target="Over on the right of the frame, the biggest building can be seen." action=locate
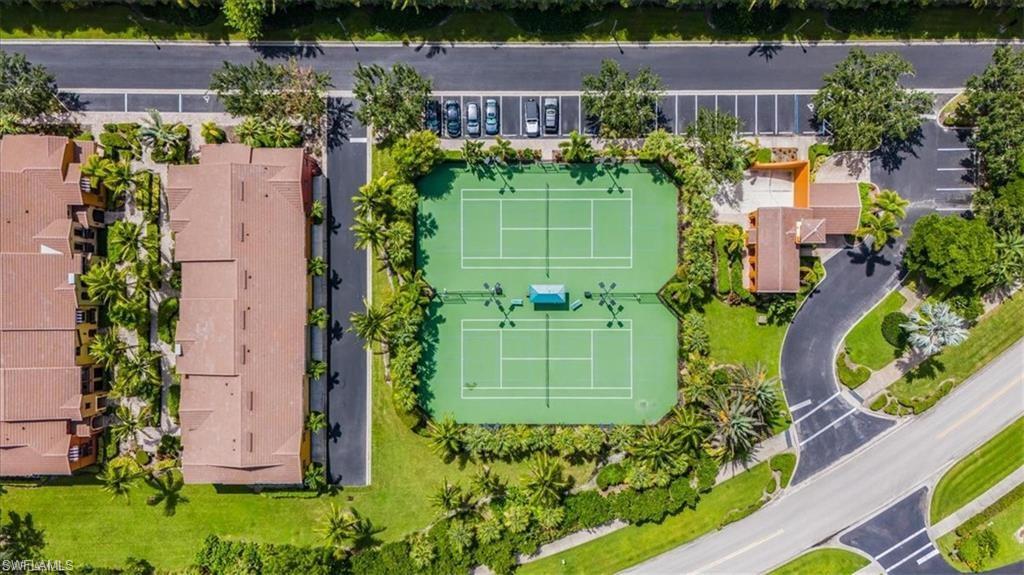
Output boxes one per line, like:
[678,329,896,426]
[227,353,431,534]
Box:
[746,162,865,294]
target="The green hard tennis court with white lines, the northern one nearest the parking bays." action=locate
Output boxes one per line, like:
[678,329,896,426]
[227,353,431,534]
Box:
[417,163,678,293]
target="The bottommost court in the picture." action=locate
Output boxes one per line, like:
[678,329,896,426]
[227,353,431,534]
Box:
[417,293,678,425]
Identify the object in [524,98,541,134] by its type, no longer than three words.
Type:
car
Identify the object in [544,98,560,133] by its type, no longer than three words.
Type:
car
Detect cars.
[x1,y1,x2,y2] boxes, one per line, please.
[444,99,460,135]
[484,99,500,134]
[424,99,440,133]
[465,102,480,134]
[524,98,541,134]
[544,98,560,133]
